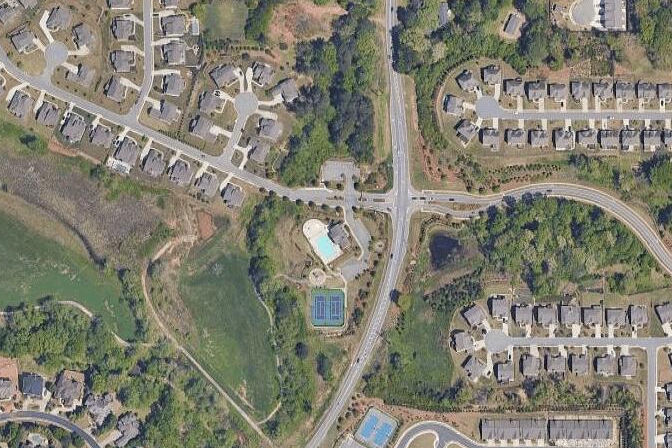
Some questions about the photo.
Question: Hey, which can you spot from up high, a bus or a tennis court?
tennis court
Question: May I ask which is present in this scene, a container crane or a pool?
pool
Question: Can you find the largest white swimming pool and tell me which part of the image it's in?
center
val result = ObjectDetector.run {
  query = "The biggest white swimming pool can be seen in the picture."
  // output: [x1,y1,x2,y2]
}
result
[303,220,343,264]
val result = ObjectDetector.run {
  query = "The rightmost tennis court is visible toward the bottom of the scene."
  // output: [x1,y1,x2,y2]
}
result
[357,409,397,448]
